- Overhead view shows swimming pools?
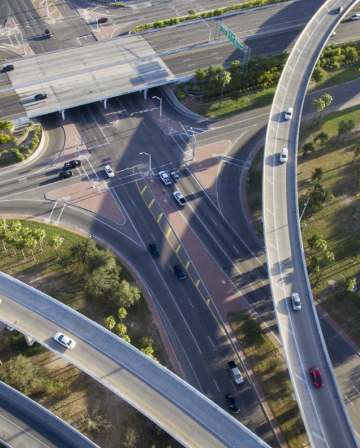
No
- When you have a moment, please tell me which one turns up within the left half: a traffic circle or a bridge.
bridge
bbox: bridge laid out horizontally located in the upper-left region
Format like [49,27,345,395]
[8,34,179,120]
